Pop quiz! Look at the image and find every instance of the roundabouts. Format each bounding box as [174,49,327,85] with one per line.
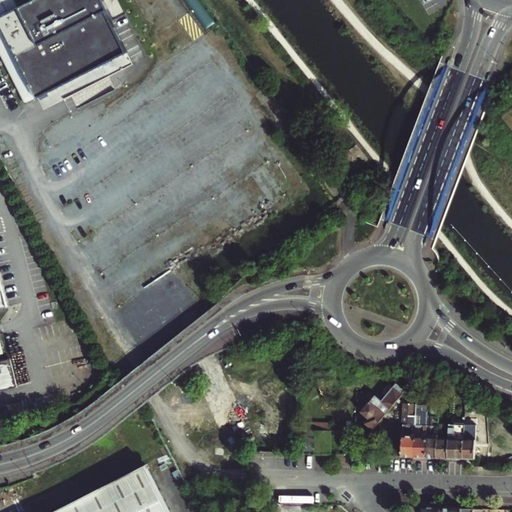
[324,246,436,359]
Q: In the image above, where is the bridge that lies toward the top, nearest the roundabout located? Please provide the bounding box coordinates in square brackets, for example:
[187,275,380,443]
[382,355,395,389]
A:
[376,50,496,254]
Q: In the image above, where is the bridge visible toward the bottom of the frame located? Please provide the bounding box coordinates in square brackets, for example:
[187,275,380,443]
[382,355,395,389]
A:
[0,308,234,485]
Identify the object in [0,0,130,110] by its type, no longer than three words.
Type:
building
